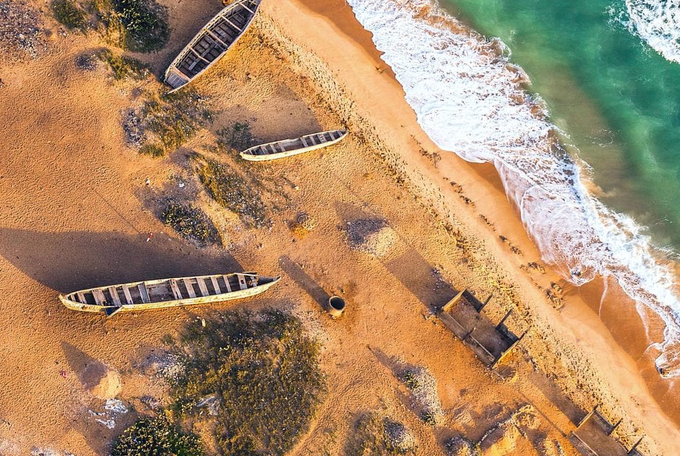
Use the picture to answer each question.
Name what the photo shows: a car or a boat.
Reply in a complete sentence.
The image shows a boat.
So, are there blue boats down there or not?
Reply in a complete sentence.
No, there appears to be no blue boat in this shot.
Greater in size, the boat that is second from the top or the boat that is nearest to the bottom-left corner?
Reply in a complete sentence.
The boat that is nearest to the bottom-left corner covers a greater area than the boat that is second from the top.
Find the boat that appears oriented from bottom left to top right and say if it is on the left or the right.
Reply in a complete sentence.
The boat that appears oriented from bottom left to top right is on the left side of the image.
